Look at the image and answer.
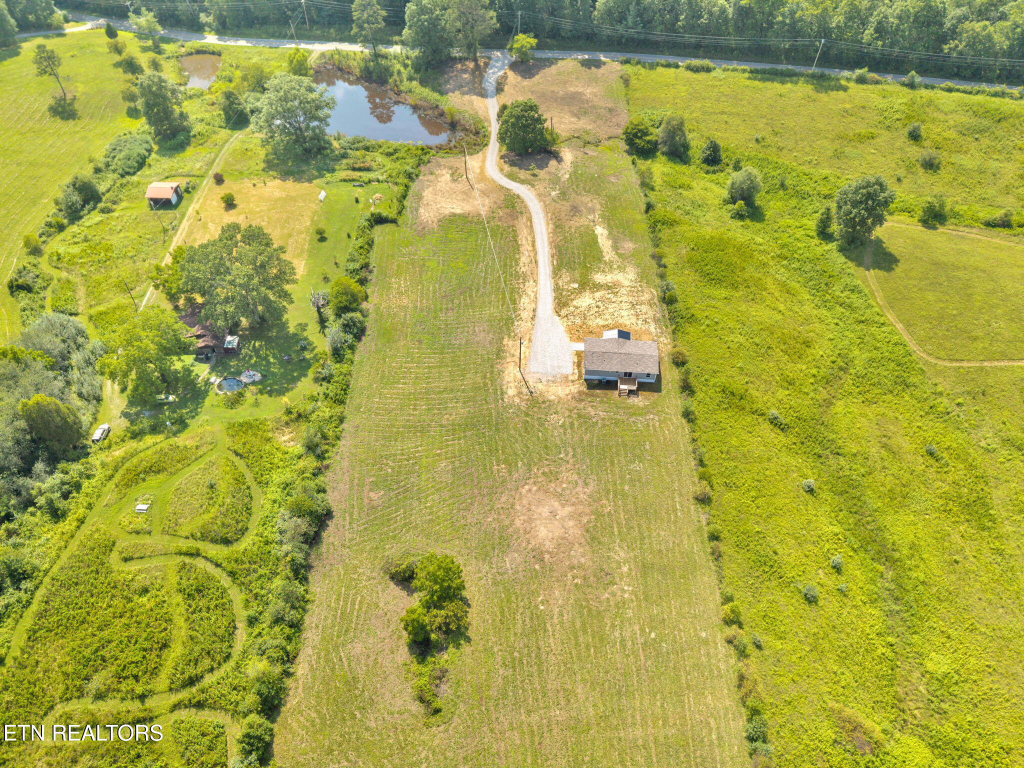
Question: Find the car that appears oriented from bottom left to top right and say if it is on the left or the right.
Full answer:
You can find the car that appears oriented from bottom left to top right on the left side of the picture.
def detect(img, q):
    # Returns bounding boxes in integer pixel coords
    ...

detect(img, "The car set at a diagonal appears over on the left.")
[89,423,114,444]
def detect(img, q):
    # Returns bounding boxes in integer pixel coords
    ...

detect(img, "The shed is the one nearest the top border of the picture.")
[146,186,178,204]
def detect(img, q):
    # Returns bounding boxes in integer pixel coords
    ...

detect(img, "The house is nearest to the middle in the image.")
[584,328,659,382]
